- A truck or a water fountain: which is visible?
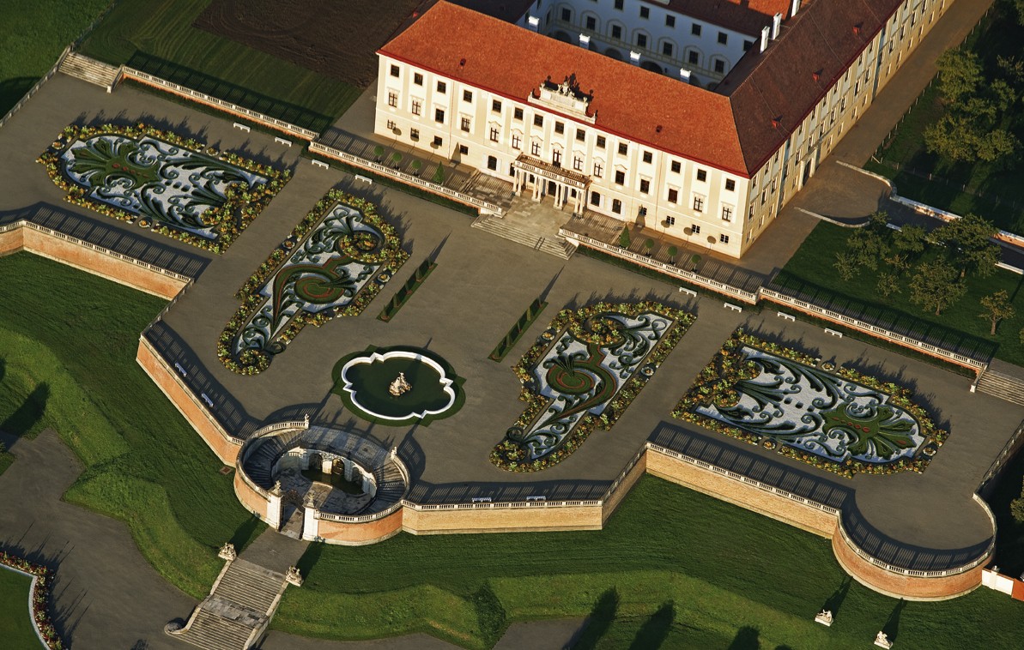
water fountain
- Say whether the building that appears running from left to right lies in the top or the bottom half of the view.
top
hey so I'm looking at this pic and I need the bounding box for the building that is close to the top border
[370,0,960,260]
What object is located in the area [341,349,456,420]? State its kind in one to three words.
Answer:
fountain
